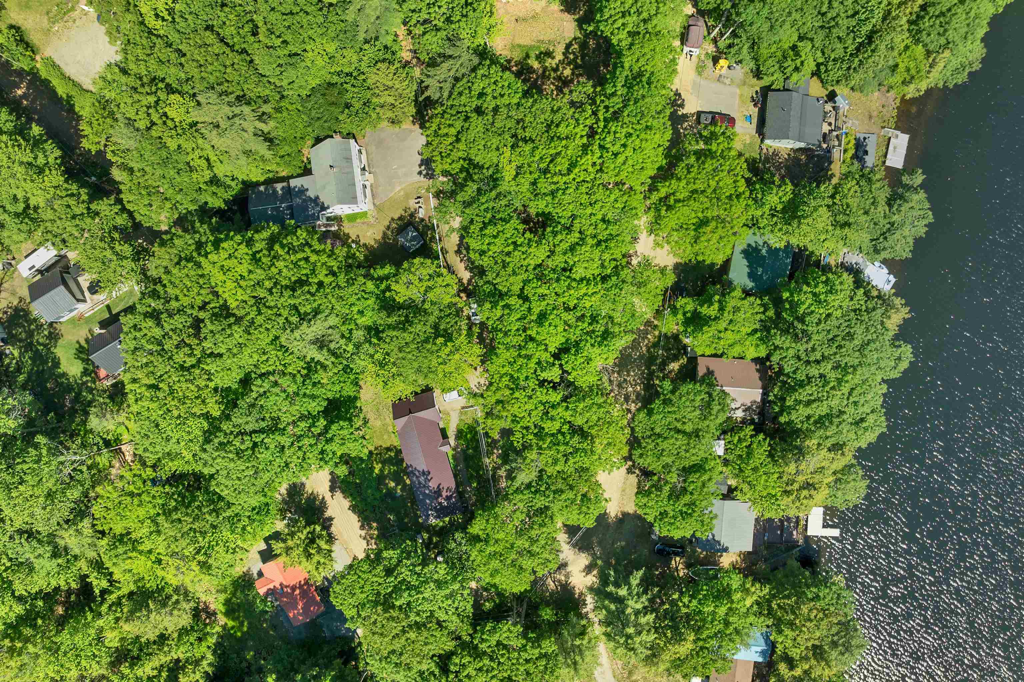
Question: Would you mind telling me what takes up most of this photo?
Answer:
trees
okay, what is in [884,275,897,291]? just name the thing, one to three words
boat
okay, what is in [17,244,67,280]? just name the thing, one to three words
vehicle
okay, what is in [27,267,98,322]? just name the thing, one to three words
house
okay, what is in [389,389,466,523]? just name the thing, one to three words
house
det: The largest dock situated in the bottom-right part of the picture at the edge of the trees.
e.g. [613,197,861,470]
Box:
[807,507,841,539]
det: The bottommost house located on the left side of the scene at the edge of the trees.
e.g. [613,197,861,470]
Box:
[256,550,330,626]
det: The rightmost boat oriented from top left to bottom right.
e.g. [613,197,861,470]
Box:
[872,260,889,274]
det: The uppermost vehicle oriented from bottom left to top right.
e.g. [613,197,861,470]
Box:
[711,58,729,77]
